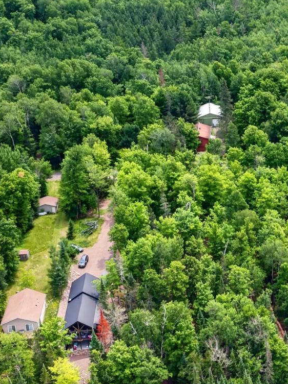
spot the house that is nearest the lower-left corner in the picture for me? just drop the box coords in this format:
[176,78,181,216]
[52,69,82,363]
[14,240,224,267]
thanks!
[2,289,48,335]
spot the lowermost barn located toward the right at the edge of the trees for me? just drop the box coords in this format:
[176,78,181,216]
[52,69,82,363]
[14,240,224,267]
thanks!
[193,124,215,153]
